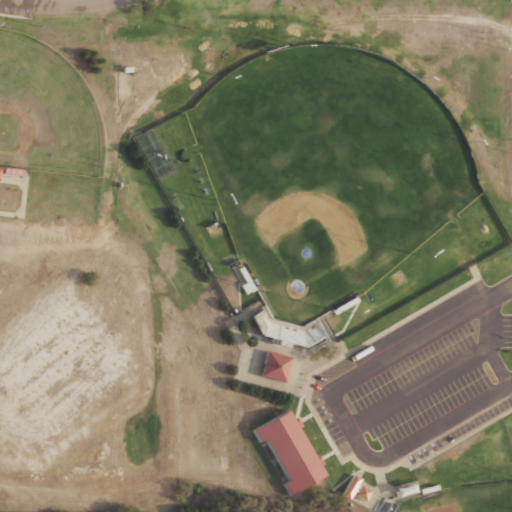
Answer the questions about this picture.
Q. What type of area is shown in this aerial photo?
sports ground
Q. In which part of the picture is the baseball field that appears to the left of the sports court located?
top left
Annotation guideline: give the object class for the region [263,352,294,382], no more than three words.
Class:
building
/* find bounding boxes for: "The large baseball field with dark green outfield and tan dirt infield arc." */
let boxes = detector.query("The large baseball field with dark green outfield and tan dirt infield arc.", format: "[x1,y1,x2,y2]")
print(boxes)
[188,44,482,326]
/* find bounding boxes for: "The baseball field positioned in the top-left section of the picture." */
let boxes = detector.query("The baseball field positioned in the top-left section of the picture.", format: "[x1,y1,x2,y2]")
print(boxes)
[0,28,106,179]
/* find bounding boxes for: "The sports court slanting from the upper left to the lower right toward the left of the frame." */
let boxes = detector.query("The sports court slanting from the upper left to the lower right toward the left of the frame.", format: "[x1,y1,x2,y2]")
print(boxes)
[134,129,178,180]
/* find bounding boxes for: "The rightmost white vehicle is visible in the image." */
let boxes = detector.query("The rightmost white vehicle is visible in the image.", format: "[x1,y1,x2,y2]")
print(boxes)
[350,346,376,362]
